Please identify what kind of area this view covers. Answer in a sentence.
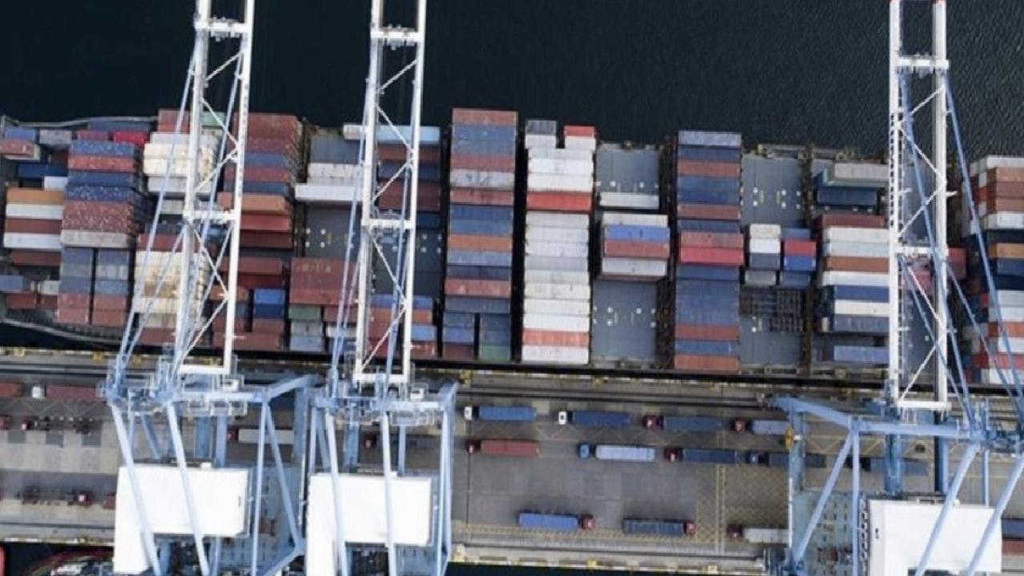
This looks like a port.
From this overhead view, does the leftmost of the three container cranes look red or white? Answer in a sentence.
The color of the leftmost of the three container cranes is white.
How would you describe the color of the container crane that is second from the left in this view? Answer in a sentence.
From above, the container crane that is second from the left appears white.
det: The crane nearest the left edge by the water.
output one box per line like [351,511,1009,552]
[103,0,329,576]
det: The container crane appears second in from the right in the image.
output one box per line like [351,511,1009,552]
[293,0,476,576]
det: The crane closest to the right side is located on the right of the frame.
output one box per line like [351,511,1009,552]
[751,0,1024,576]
